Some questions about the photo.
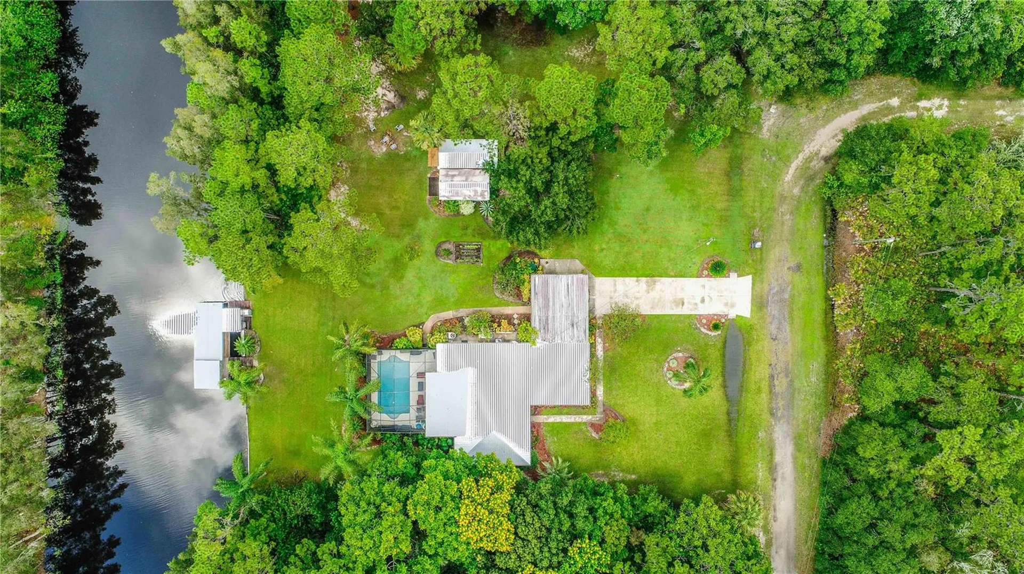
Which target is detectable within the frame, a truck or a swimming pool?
swimming pool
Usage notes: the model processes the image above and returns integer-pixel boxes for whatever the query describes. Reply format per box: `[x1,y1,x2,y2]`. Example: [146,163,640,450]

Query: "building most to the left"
[194,301,247,389]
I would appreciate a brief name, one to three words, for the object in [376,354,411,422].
swimming pool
